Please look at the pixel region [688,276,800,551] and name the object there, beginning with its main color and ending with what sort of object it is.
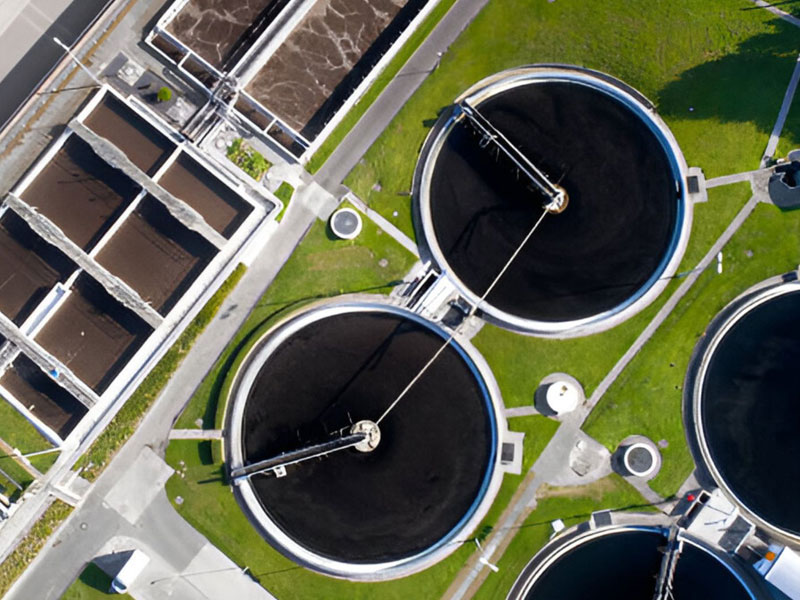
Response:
black storage tank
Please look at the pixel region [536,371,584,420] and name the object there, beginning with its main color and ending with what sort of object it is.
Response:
white storage tank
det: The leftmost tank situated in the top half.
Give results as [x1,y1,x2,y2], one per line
[330,207,362,239]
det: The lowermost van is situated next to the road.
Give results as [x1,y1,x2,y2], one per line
[112,548,151,595]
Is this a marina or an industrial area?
industrial area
